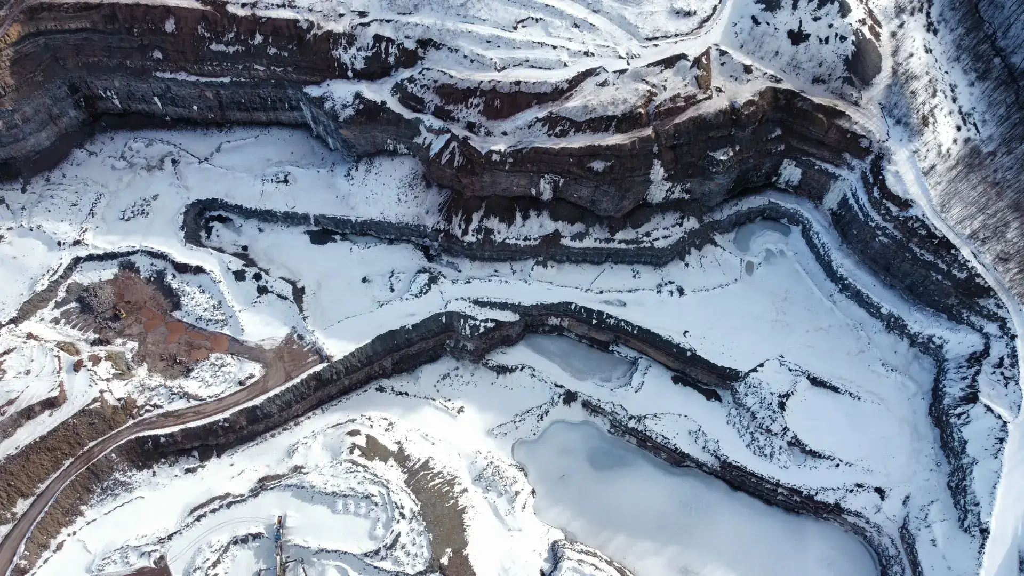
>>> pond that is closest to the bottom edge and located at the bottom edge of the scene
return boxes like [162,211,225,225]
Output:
[513,420,880,576]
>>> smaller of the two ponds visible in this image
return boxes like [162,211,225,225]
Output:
[524,334,633,382]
